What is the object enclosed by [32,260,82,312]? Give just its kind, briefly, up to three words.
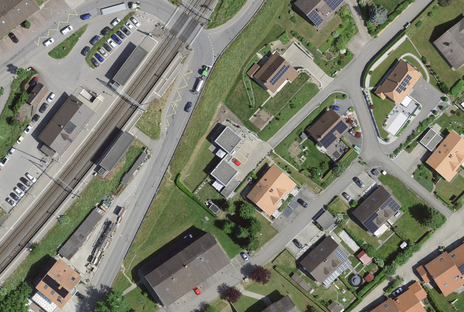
house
